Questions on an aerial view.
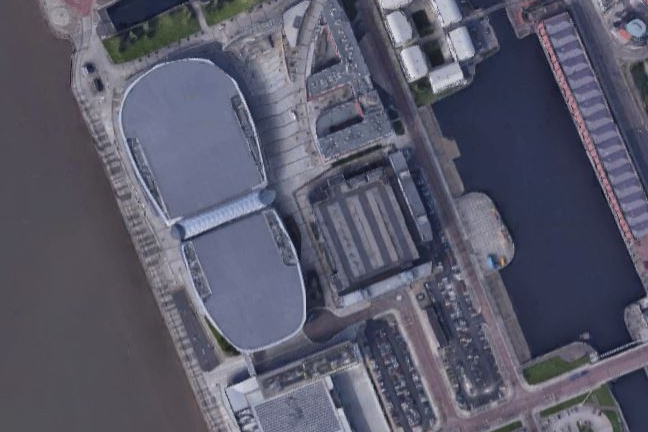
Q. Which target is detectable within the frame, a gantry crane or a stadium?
stadium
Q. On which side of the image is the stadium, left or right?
left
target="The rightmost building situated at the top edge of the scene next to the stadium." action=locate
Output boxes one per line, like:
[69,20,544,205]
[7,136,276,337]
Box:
[306,0,393,165]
